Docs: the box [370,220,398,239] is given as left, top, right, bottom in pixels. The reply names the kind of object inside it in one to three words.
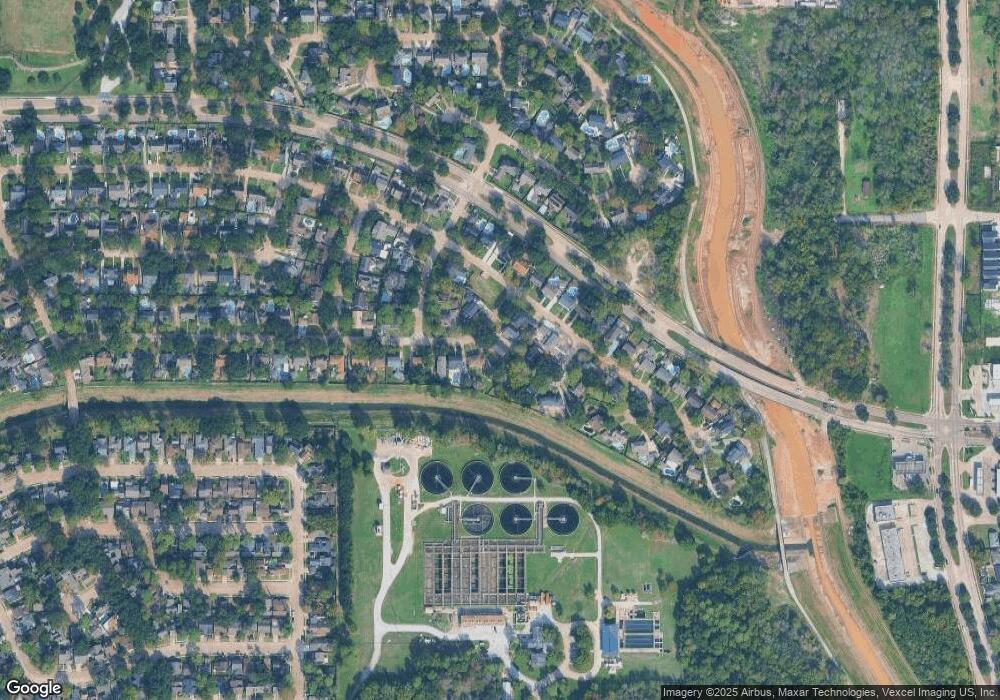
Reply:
house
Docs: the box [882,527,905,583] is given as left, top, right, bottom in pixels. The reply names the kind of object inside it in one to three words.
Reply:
building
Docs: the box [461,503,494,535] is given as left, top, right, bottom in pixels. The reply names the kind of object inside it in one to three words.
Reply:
storage tank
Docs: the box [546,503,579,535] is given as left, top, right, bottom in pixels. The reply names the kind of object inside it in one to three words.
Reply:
storage tank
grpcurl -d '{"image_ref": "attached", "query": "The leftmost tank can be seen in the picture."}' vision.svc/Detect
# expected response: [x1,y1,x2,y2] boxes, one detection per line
[421,461,453,493]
